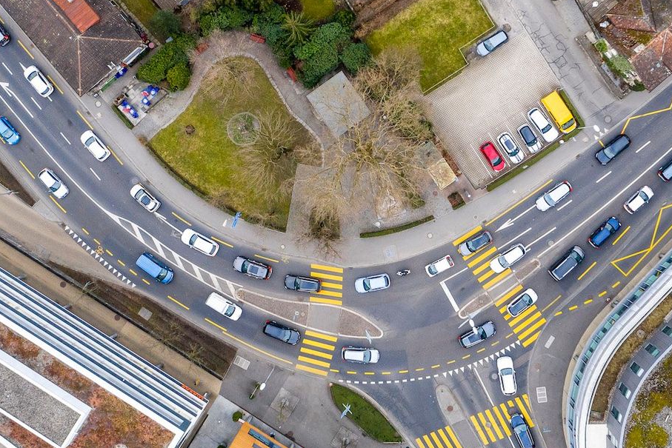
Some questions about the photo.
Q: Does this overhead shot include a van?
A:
Yes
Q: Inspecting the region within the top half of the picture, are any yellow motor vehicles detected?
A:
Yes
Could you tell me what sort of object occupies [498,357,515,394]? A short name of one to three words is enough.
car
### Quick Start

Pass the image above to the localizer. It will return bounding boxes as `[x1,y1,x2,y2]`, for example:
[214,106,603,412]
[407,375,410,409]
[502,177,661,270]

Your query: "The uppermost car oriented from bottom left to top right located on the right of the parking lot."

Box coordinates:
[596,134,630,164]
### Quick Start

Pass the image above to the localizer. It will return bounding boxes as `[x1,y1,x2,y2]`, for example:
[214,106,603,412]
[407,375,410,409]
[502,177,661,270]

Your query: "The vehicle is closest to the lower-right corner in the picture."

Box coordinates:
[511,413,536,448]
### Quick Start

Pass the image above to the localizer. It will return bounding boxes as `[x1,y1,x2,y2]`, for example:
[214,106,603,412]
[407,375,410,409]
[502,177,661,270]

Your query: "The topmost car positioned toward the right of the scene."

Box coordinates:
[475,30,509,56]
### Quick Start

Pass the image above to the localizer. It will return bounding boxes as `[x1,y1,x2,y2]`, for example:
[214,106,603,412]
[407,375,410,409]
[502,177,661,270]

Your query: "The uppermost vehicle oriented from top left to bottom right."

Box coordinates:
[25,64,54,97]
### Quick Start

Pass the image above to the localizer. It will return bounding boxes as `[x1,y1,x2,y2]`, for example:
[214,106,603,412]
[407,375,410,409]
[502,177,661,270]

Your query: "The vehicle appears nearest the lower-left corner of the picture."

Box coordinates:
[134,252,174,283]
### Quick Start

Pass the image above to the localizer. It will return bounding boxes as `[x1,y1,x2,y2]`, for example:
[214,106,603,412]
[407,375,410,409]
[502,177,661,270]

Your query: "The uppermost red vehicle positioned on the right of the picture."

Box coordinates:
[480,141,505,171]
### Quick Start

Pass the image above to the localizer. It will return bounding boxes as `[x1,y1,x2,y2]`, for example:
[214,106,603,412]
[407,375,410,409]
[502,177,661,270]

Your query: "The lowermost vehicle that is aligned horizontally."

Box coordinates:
[341,347,378,363]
